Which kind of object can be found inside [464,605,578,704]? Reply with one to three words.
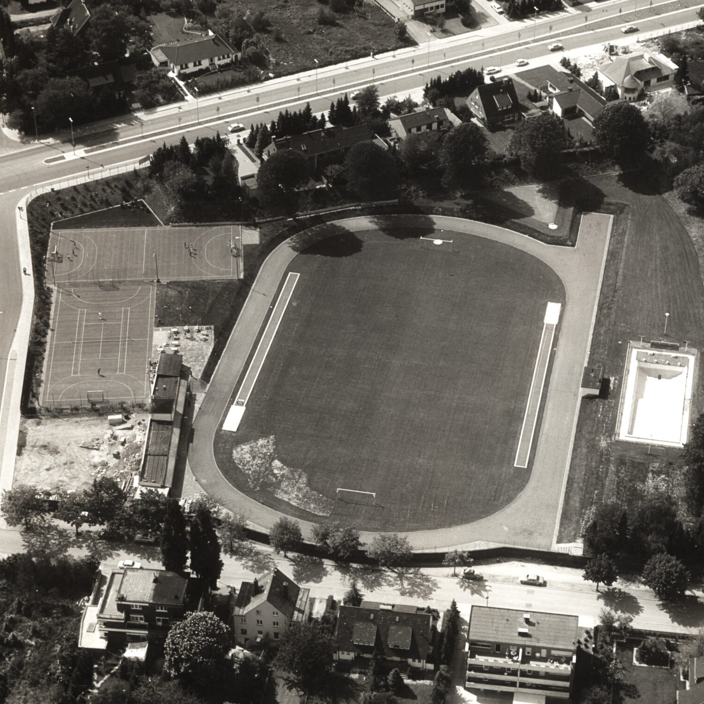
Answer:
building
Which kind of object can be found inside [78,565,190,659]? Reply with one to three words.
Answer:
house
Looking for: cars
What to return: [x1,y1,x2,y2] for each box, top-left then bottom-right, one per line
[118,558,142,569]
[547,42,564,51]
[486,65,501,75]
[520,575,544,586]
[349,90,359,98]
[621,24,638,33]
[491,3,504,13]
[227,124,246,132]
[513,57,530,66]
[458,570,483,582]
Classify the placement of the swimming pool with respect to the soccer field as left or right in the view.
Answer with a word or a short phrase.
right of it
